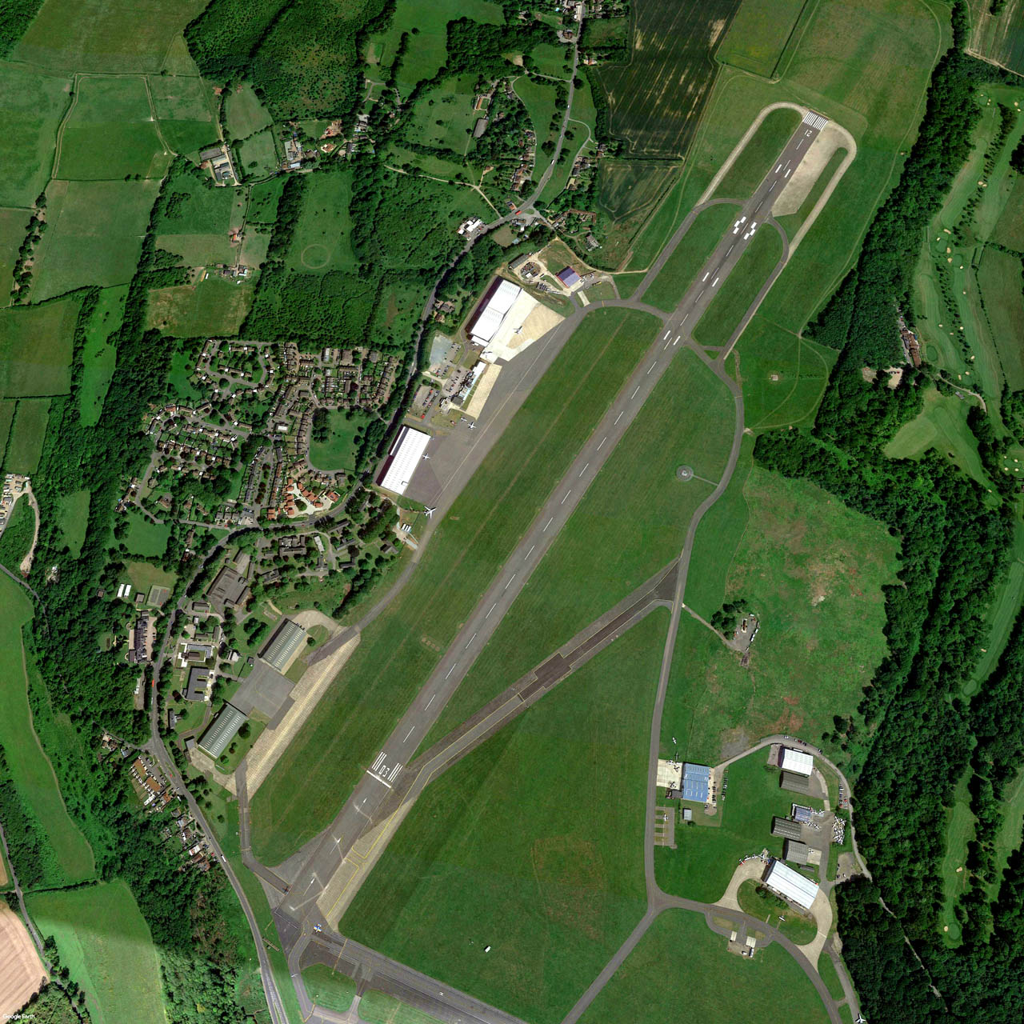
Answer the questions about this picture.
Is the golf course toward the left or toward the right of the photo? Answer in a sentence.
The golf course appears in the right half of the scene.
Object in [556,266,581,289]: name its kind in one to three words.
hangar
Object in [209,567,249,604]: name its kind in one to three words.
building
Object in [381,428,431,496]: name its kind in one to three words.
hangar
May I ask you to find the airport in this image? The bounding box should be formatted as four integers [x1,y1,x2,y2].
[190,71,912,1024]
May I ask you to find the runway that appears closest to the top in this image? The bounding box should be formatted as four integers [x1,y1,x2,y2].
[275,109,830,928]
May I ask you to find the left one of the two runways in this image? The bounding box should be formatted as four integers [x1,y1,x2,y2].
[272,904,535,1024]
